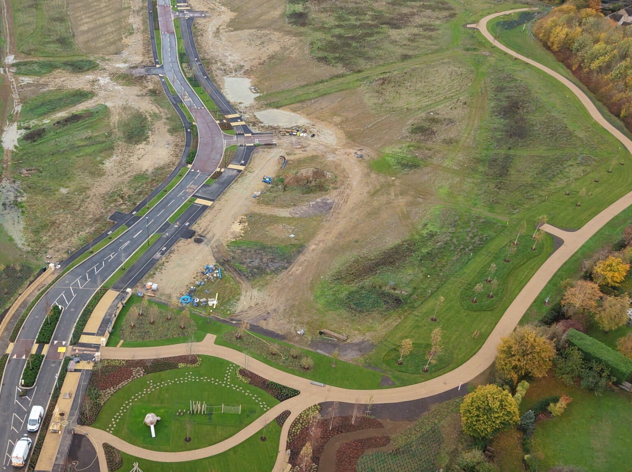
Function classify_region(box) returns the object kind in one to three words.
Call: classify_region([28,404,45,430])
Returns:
vehicle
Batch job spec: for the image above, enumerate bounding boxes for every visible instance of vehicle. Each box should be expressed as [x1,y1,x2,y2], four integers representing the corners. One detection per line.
[15,435,38,465]
[28,404,45,430]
